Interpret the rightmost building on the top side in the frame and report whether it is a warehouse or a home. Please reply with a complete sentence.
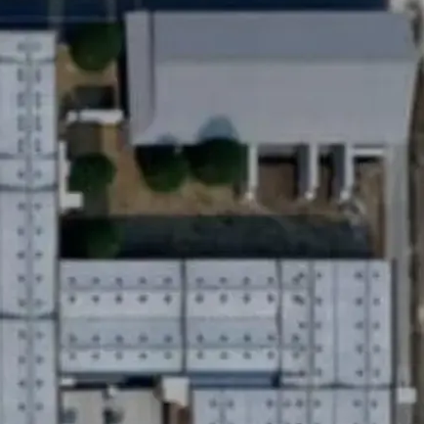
Specifically, the rightmost building on the top side is a warehouse.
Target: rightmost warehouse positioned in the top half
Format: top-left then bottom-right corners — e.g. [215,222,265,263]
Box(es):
[118,11,413,198]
